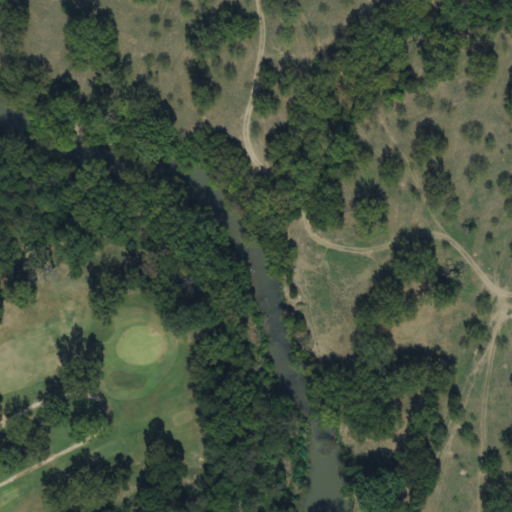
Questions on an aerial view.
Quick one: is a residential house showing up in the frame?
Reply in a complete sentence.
No, this view has no residential house in it.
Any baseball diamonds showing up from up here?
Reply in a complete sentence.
No, the picture doesn't show any baseball diamond.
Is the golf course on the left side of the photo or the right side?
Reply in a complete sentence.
The golf course sits on the left side.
